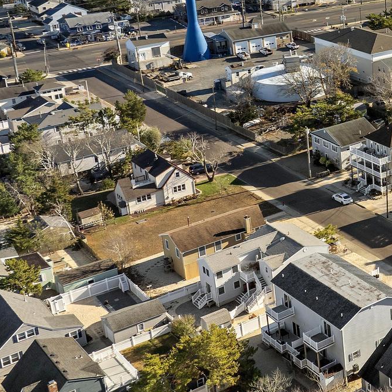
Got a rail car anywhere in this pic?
No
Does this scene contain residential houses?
Yes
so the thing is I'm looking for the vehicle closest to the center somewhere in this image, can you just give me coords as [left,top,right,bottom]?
[186,162,208,175]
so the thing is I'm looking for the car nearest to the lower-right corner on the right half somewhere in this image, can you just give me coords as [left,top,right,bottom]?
[330,192,352,206]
